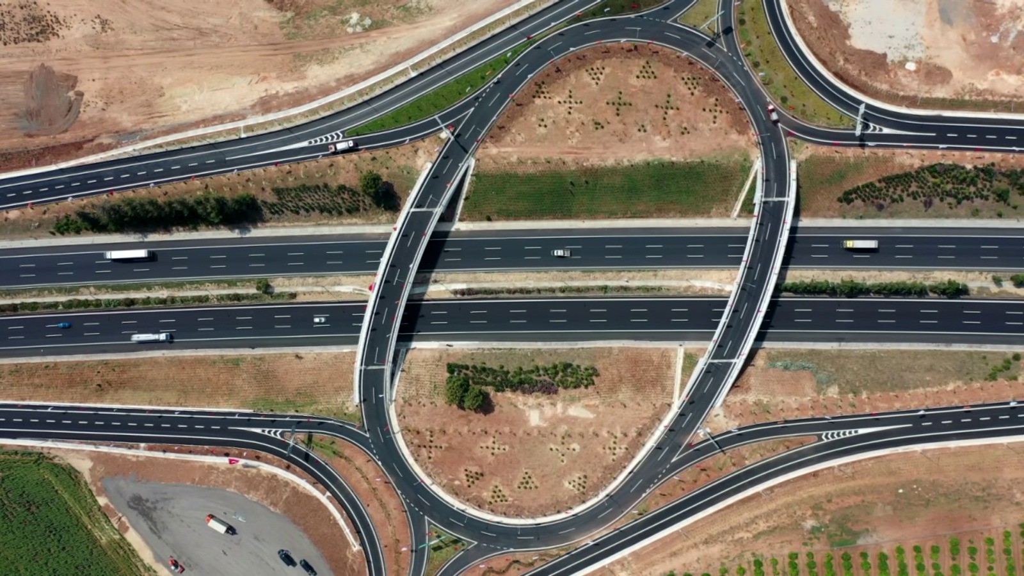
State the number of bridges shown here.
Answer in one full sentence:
The photo contains 2 bridges.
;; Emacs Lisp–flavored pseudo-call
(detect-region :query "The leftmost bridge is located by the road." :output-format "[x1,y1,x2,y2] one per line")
[352,157,471,407]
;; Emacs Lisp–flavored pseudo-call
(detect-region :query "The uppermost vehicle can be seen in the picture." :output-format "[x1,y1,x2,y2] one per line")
[765,104,778,123]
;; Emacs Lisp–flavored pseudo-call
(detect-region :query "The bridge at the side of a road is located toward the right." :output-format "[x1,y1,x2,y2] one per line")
[675,160,798,411]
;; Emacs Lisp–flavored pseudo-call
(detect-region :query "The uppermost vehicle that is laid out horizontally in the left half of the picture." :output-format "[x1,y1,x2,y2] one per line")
[329,141,355,153]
